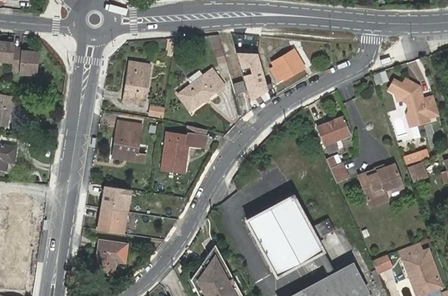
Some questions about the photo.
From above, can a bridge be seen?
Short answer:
No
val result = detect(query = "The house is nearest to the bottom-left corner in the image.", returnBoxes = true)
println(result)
[96,240,130,273]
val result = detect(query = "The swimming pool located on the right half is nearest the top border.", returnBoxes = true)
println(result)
[395,117,408,135]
